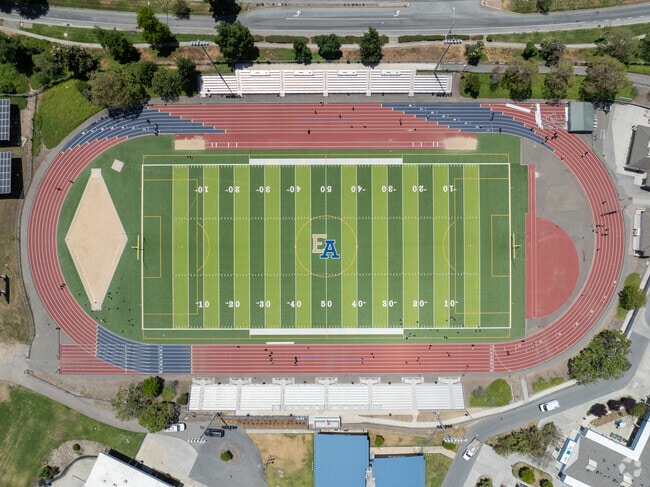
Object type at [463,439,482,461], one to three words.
vehicle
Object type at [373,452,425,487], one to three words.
building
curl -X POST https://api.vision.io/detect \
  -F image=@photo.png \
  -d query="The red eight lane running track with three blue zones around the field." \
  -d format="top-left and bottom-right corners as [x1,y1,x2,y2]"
[28,103,625,373]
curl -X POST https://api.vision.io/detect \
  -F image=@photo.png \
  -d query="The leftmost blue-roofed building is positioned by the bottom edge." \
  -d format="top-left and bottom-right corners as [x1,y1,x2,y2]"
[314,431,368,487]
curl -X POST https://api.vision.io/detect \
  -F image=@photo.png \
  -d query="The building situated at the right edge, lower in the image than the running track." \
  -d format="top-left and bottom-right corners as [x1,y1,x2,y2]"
[555,410,650,487]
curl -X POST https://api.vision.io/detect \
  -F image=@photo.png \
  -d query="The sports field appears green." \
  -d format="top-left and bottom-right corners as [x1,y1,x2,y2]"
[58,133,527,344]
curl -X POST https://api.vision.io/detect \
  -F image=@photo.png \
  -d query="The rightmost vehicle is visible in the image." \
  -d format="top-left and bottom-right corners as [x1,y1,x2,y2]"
[539,401,563,413]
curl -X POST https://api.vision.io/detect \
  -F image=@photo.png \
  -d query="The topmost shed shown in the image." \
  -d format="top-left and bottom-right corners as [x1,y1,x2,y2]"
[564,102,592,133]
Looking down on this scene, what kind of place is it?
sports ground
